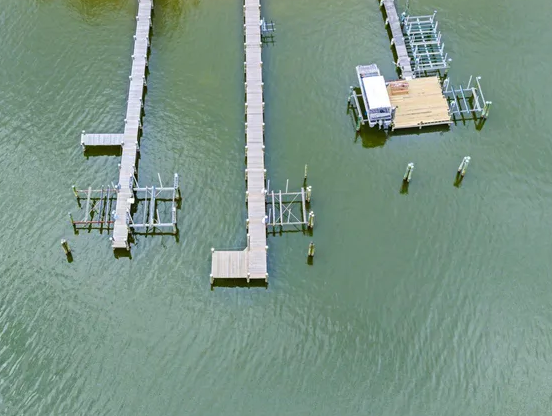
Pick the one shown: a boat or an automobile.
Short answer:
boat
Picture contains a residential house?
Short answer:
No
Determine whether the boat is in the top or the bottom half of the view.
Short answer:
top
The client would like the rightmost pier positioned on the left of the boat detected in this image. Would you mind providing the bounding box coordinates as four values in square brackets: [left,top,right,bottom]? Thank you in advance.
[209,0,269,285]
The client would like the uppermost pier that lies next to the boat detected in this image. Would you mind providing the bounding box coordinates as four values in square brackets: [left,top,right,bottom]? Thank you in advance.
[378,0,453,136]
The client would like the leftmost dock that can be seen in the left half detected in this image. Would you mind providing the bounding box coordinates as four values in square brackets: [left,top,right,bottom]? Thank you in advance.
[81,0,154,254]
